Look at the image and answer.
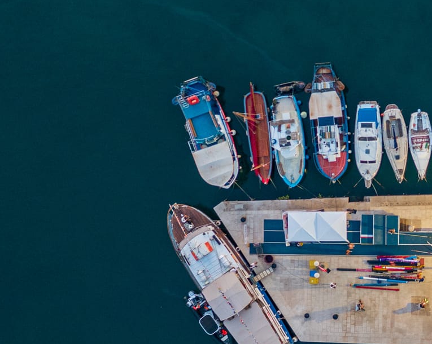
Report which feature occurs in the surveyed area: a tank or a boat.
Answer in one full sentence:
Of the two, only a boat appears.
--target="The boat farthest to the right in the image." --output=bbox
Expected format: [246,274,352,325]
[408,106,432,193]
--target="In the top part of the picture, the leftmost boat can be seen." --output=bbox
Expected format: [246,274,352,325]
[172,75,249,197]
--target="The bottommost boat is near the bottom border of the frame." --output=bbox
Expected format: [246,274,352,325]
[185,290,231,344]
